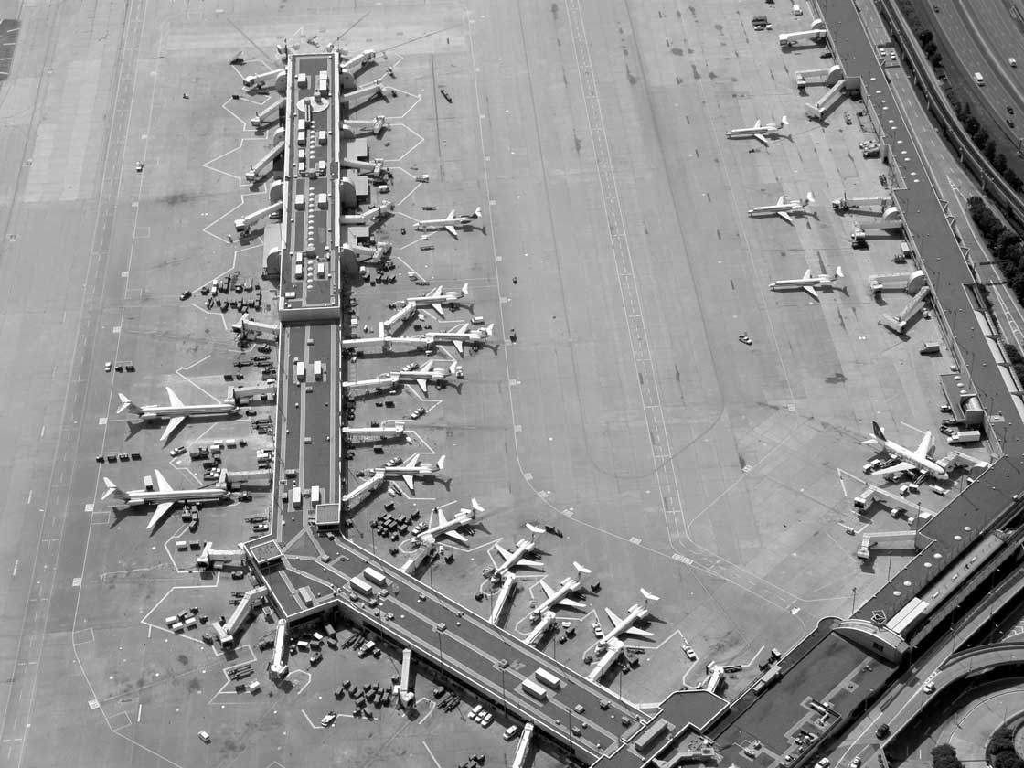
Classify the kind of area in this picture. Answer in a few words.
airport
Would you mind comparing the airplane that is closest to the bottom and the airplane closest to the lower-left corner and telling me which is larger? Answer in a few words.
the airplane closest to the lower-left corner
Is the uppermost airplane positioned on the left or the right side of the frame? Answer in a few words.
right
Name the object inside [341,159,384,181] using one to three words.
jet bridge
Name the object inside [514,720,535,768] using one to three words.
jet bridge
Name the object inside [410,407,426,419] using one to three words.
vehicle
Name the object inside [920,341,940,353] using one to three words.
vehicle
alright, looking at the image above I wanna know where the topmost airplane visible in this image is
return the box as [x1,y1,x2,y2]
[727,113,791,141]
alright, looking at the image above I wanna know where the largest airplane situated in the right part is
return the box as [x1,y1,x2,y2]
[863,419,948,480]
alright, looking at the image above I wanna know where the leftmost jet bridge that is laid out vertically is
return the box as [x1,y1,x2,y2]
[270,616,291,683]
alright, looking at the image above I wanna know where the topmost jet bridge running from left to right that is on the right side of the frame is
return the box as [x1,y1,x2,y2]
[776,30,826,50]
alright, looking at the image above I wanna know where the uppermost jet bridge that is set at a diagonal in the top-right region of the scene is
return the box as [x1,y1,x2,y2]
[803,80,843,121]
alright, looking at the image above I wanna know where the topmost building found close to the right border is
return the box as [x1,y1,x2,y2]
[811,0,1024,625]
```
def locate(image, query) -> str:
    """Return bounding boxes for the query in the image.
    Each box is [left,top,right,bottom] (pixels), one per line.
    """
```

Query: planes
[116,387,240,440]
[491,523,550,583]
[863,419,948,480]
[418,319,493,350]
[770,264,844,295]
[396,281,470,313]
[413,203,483,233]
[596,592,659,655]
[531,561,596,622]
[384,452,447,488]
[101,468,231,526]
[398,358,457,390]
[410,497,487,544]
[749,191,818,220]
[727,113,791,141]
